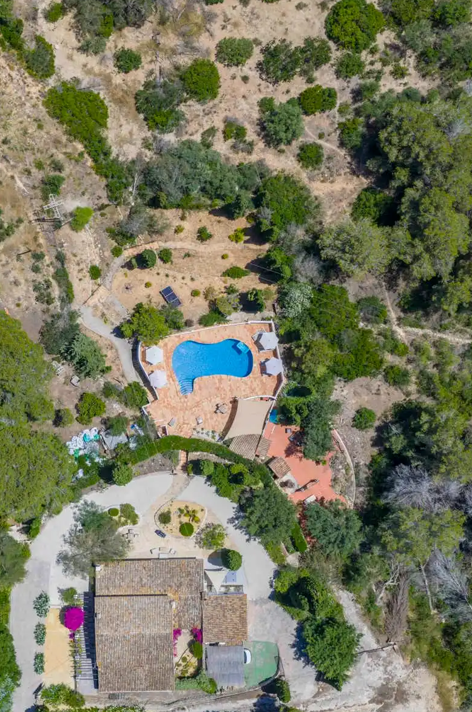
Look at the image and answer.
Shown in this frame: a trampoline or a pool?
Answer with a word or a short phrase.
pool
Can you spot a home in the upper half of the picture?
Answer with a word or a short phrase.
No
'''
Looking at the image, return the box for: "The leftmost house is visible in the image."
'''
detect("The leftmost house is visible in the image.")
[94,556,206,693]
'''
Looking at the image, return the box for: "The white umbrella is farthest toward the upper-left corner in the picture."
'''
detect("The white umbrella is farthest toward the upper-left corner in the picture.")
[144,346,163,364]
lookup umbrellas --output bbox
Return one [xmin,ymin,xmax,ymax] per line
[263,358,282,374]
[149,371,167,389]
[257,331,276,350]
[144,346,163,364]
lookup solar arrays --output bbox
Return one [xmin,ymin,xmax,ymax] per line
[159,285,183,308]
